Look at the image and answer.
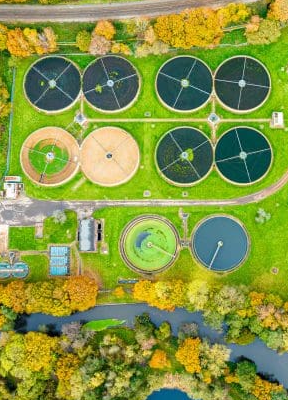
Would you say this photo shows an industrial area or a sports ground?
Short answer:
industrial area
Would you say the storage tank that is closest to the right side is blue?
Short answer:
Yes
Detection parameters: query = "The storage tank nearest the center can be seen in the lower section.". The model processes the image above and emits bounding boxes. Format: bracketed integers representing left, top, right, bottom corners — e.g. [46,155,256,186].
[119,213,180,276]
